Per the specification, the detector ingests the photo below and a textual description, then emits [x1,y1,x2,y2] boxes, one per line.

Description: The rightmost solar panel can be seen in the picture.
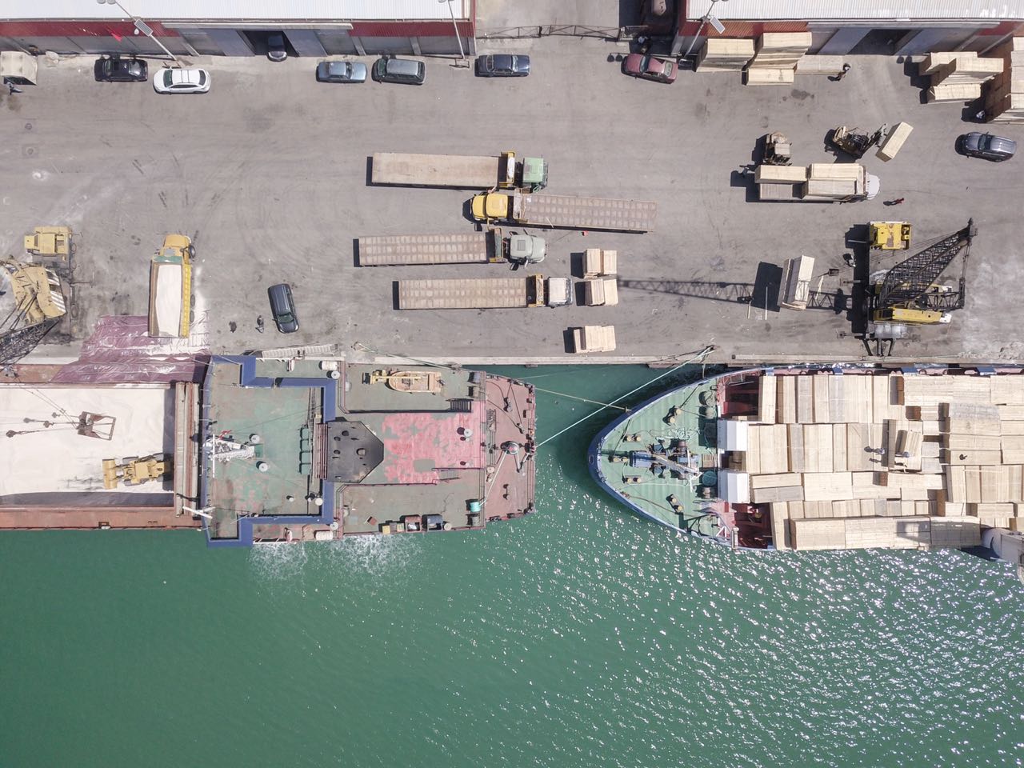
[705,14,727,37]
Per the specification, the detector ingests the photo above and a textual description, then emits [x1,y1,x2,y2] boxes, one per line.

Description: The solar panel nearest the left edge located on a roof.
[133,17,155,39]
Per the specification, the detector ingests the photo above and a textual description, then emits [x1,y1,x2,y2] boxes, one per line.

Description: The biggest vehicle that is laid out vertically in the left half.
[148,235,196,338]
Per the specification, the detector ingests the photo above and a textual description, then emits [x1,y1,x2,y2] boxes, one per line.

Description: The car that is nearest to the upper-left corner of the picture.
[96,55,152,85]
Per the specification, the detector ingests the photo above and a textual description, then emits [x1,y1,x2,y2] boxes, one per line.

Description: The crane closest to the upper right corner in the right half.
[797,204,969,357]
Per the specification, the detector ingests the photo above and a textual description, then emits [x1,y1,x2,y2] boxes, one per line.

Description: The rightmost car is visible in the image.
[953,132,1016,164]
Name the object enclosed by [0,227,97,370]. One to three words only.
crane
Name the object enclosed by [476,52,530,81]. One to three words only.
car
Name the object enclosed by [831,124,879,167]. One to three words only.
work vehicle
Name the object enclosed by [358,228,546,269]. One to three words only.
truck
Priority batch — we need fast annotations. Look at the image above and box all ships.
[0,356,536,547]
[591,368,1024,570]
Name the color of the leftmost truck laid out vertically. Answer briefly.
white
